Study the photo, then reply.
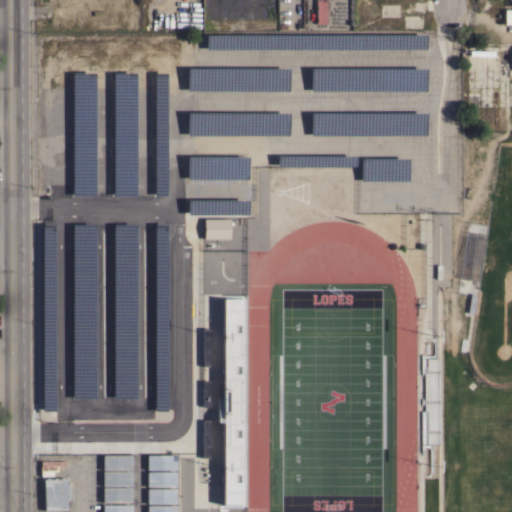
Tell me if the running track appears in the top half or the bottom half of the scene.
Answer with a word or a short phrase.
bottom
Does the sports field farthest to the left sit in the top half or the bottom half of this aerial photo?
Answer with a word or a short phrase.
bottom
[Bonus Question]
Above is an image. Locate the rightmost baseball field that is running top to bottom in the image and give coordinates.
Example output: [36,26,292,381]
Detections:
[474,146,512,388]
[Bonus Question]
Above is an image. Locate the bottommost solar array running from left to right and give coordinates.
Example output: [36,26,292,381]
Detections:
[190,200,251,216]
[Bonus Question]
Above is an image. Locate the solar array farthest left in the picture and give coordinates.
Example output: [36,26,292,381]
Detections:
[44,226,58,410]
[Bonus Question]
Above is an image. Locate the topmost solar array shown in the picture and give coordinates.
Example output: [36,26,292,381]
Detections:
[208,35,429,50]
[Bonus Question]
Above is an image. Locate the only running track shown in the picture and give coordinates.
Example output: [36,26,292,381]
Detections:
[248,222,417,512]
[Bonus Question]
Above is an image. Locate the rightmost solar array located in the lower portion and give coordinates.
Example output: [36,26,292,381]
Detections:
[156,226,170,410]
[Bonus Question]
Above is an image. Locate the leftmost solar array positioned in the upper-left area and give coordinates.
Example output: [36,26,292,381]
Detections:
[75,74,98,196]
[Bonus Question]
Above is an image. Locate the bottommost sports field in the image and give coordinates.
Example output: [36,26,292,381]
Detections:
[270,284,397,512]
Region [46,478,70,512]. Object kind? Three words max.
building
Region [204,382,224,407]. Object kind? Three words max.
building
